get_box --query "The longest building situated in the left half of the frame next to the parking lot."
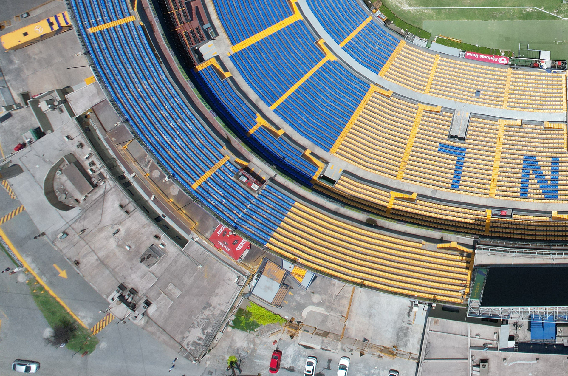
[1,130,254,365]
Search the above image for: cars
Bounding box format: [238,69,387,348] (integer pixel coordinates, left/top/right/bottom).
[337,358,349,376]
[303,357,316,376]
[11,359,37,374]
[267,350,282,374]
[389,370,399,376]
